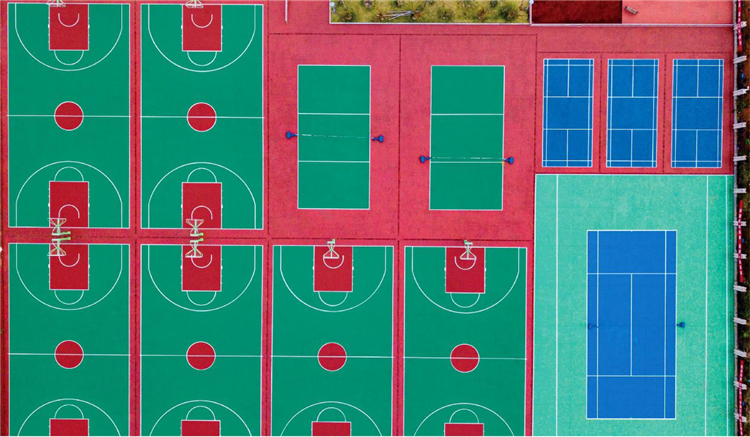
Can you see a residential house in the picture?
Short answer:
No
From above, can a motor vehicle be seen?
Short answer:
No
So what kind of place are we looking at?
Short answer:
sports ground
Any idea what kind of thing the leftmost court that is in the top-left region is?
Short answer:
basketball court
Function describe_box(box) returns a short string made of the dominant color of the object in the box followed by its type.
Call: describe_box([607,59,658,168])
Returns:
blue sports court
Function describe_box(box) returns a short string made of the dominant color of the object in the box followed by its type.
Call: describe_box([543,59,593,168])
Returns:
blue sports court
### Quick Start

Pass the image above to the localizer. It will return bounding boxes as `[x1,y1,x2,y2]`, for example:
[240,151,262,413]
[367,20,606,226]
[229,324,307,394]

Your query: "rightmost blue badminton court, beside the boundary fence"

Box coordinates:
[672,59,724,168]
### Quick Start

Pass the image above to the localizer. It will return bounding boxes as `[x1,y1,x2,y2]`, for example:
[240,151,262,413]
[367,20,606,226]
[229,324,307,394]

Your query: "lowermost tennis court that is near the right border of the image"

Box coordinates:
[533,173,734,437]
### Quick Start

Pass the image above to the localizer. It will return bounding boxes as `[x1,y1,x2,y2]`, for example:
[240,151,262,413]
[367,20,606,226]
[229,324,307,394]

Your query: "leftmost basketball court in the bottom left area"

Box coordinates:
[7,242,130,437]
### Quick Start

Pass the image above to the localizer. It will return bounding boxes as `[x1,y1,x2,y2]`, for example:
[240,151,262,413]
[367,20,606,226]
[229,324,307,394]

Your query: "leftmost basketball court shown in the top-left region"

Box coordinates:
[7,3,130,228]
